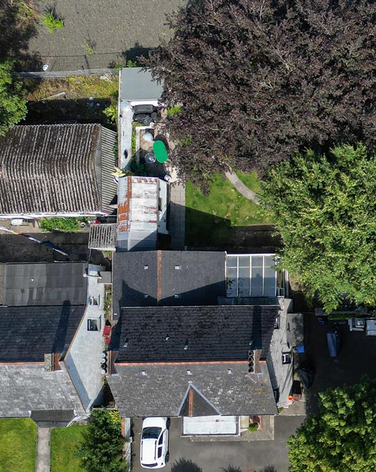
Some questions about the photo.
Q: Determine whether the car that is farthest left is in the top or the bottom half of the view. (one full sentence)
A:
The car that is farthest left is in the bottom half of the image.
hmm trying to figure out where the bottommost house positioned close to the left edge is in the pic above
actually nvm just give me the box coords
[0,290,108,432]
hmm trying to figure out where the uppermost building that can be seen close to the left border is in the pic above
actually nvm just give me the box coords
[0,123,117,219]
